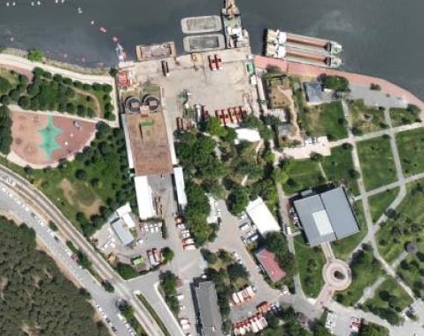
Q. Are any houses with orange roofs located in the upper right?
No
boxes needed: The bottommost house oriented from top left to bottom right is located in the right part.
[254,248,286,282]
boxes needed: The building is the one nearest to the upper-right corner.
[303,81,324,102]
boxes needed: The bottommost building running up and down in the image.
[196,277,225,336]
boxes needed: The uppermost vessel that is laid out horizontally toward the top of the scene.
[180,16,223,34]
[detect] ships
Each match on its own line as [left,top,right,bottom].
[136,41,176,61]
[180,16,223,34]
[182,33,225,53]
[263,44,342,66]
[221,0,251,48]
[264,29,342,53]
